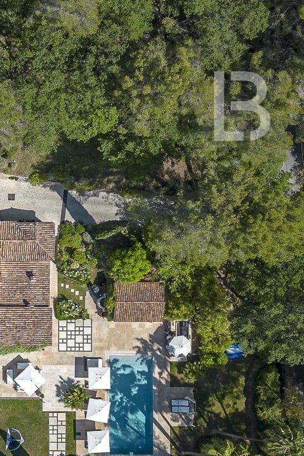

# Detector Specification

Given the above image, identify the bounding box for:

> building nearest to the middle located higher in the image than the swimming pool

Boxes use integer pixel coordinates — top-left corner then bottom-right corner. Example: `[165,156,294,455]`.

[107,282,165,322]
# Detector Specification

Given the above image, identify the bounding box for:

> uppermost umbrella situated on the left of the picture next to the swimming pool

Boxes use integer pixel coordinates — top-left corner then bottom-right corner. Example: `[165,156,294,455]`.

[87,367,110,390]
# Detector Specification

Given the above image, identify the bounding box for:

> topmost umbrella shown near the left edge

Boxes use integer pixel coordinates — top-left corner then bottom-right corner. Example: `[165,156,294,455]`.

[13,364,46,396]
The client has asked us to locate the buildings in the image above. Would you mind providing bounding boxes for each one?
[0,221,56,347]
[107,282,165,322]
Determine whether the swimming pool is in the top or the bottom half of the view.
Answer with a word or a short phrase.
bottom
